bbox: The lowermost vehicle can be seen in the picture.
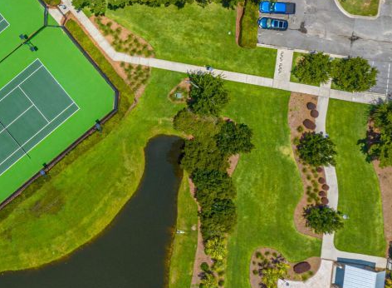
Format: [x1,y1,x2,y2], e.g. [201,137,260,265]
[259,17,288,30]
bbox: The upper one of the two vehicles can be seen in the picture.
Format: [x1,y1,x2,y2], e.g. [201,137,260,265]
[260,0,296,14]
